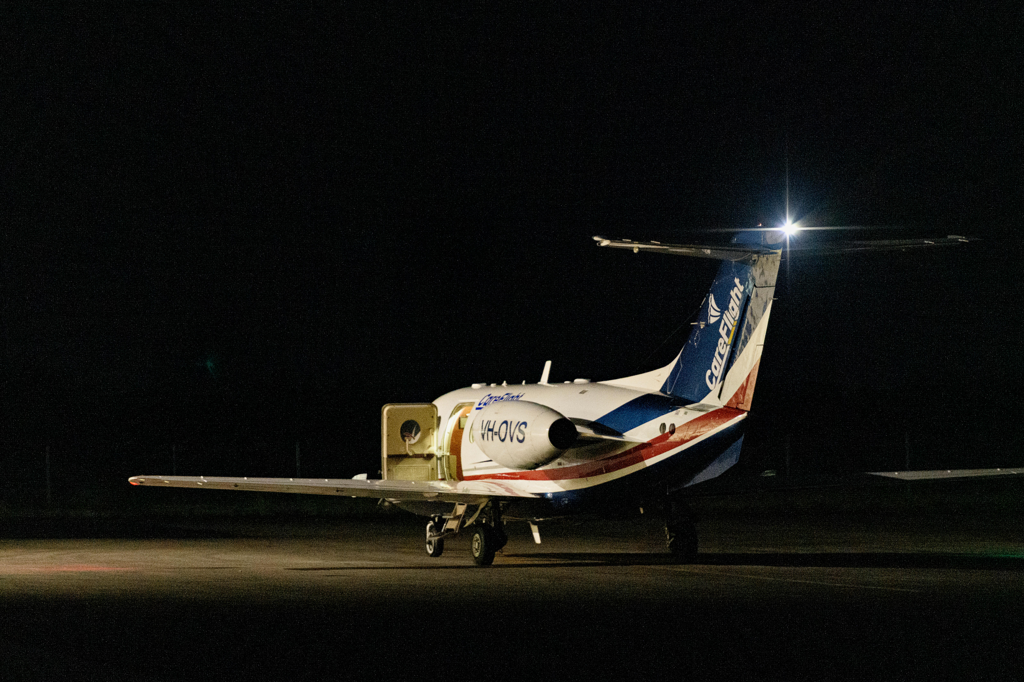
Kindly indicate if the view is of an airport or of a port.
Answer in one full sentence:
It's an airport.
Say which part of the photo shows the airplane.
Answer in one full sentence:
Look in the center portion of the view to spot the airplane.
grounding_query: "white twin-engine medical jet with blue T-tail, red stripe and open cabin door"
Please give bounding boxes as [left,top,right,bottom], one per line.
[129,223,1024,565]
